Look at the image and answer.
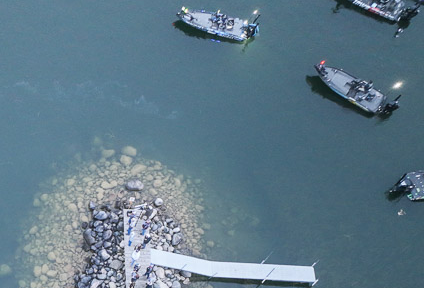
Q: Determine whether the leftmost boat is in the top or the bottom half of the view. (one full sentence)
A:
It is in the top half that the leftmost boat appears.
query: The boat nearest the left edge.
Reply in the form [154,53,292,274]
[177,8,262,42]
